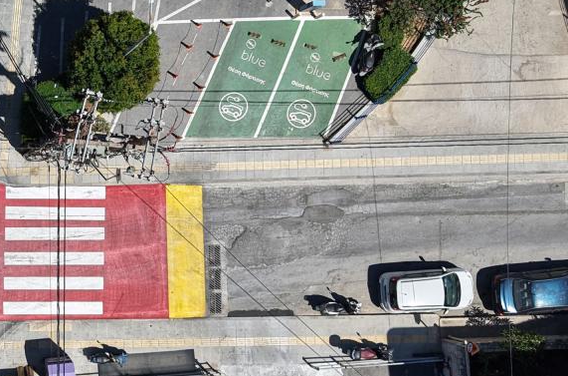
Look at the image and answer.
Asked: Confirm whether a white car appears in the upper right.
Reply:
No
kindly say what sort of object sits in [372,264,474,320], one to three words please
car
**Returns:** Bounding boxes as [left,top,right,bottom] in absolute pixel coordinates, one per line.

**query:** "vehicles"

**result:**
[355,37,400,77]
[488,269,568,314]
[313,290,360,320]
[87,343,134,374]
[372,264,474,320]
[344,341,394,371]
